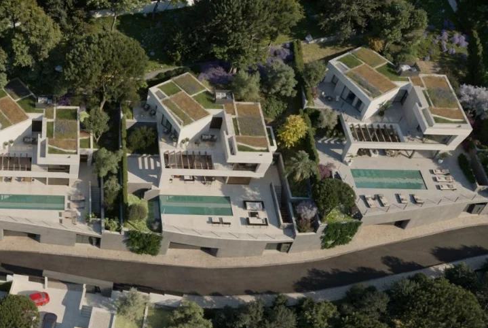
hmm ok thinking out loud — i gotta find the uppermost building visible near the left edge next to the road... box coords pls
[0,81,104,254]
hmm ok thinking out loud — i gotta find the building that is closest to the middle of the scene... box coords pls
[132,72,297,259]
